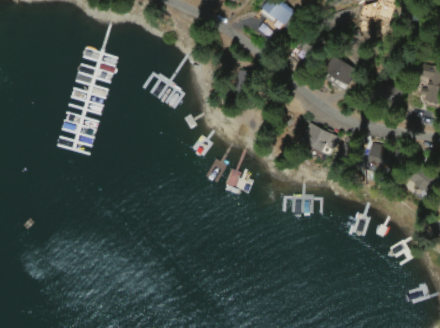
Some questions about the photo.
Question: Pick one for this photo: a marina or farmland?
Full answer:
What you see here is a marina.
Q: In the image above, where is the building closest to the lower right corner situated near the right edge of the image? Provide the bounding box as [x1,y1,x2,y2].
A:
[405,172,434,198]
